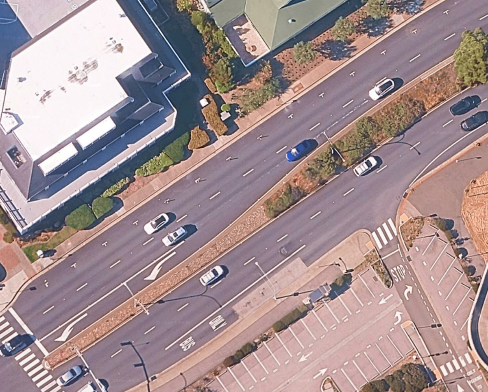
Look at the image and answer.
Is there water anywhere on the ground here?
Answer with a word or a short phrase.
No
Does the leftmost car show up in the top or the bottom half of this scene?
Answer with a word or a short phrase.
bottom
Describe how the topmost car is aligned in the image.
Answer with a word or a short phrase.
diagonally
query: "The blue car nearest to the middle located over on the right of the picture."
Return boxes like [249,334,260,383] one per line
[286,138,315,161]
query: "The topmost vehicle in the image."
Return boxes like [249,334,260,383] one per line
[367,76,396,100]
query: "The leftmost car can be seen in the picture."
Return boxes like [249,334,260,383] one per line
[0,335,27,360]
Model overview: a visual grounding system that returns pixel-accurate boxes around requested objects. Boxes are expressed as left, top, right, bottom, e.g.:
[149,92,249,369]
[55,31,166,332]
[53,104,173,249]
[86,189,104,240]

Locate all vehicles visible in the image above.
[462,109,488,132]
[352,154,380,178]
[367,76,396,100]
[0,335,27,360]
[55,365,84,388]
[451,93,481,117]
[77,381,102,392]
[142,211,172,236]
[197,264,226,287]
[160,224,188,248]
[286,138,315,161]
